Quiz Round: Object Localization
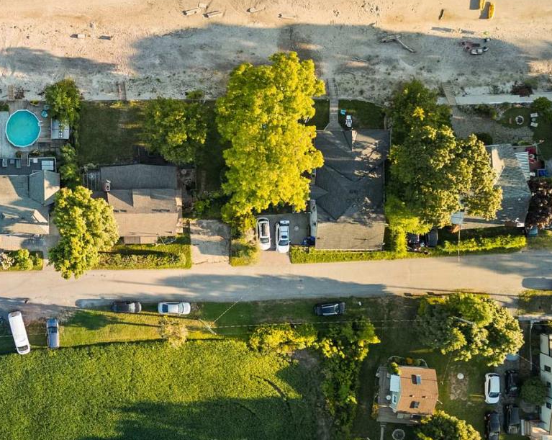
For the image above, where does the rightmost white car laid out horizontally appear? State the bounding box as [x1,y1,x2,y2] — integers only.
[157,300,190,316]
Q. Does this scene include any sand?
Yes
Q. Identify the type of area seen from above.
residential area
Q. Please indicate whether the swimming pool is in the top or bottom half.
top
